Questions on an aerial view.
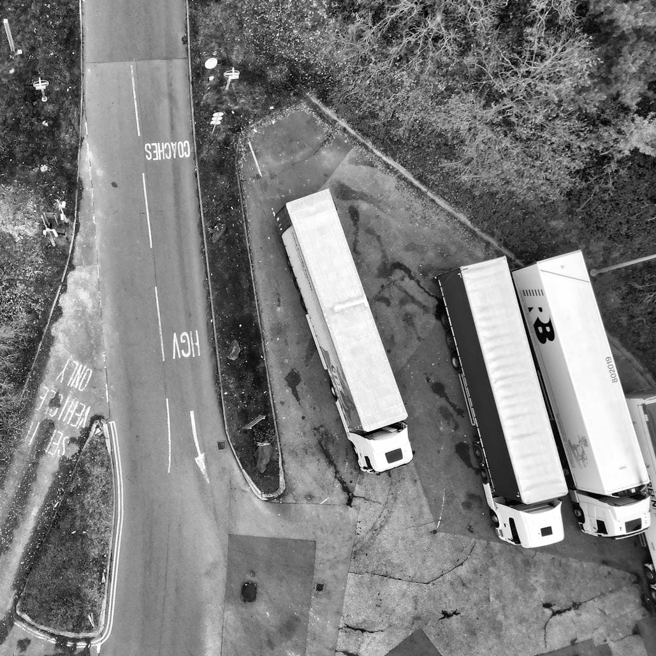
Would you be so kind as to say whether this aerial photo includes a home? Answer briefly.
No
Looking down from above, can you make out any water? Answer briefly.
No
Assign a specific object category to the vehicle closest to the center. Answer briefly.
truck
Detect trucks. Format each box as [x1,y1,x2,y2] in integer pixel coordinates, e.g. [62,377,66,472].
[275,190,418,478]
[435,258,569,552]
[510,251,650,542]
[626,393,656,603]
